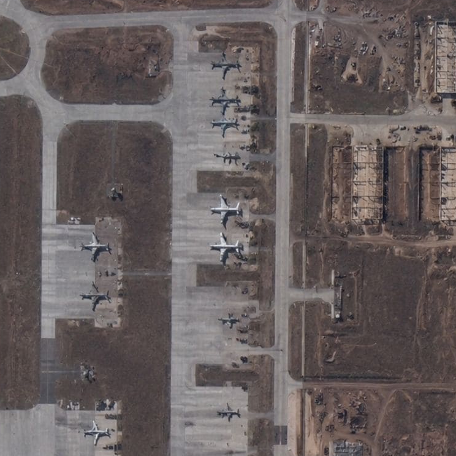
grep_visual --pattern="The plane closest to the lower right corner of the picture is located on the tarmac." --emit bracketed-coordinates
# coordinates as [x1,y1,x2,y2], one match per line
[217,404,240,423]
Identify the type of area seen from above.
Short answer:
airport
